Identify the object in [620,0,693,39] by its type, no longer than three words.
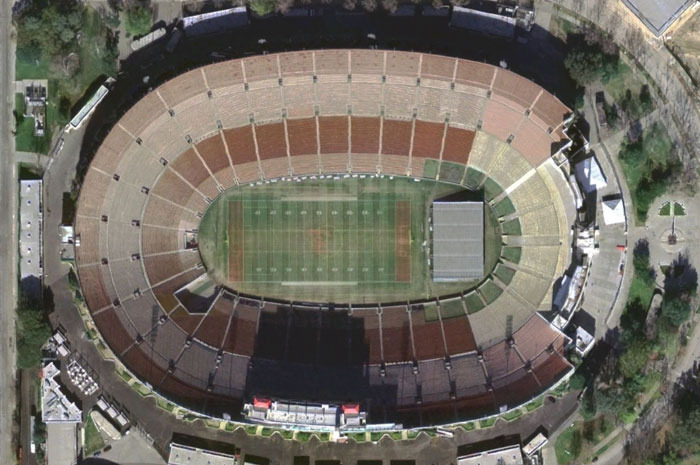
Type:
building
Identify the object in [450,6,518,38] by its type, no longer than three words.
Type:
building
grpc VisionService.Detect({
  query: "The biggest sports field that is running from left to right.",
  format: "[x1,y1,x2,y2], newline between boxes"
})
[198,174,502,308]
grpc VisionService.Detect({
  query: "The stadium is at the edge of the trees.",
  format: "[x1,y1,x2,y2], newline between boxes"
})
[74,49,576,441]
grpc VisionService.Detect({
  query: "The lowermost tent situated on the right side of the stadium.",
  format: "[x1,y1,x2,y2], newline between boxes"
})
[602,198,625,225]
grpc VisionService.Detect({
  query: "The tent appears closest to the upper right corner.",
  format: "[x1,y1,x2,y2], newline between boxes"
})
[575,156,607,193]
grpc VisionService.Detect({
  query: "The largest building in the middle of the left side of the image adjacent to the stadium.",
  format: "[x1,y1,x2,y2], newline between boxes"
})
[21,180,42,313]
